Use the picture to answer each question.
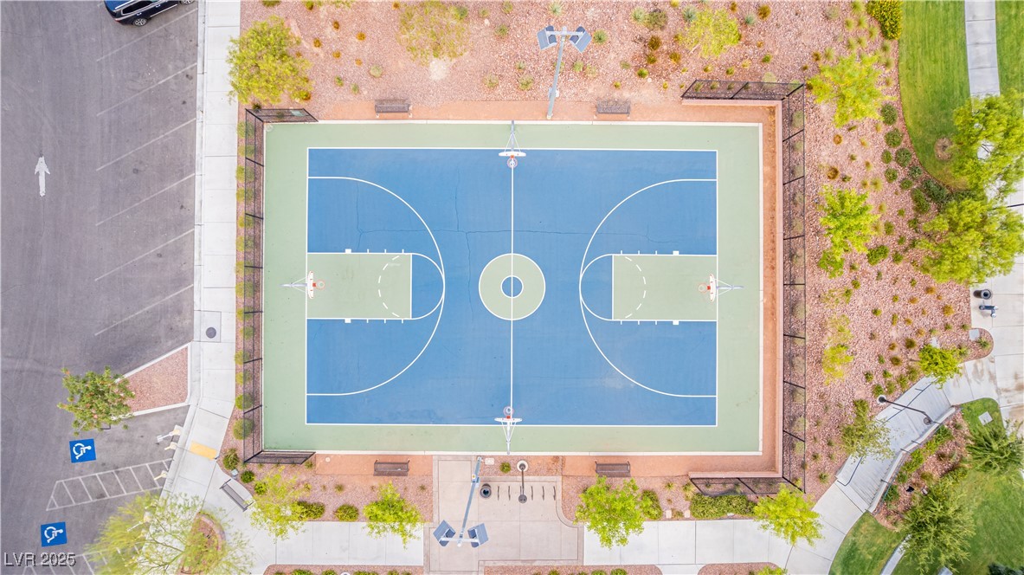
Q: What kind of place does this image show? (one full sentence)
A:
This image shows a sports ground.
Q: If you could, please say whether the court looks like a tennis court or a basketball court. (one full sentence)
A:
I'd identify the court as a basketball court.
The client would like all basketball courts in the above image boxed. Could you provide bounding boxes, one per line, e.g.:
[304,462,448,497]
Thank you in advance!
[261,119,764,456]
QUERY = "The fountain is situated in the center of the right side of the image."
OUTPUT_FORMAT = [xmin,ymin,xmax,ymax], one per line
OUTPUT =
[976,305,1012,321]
